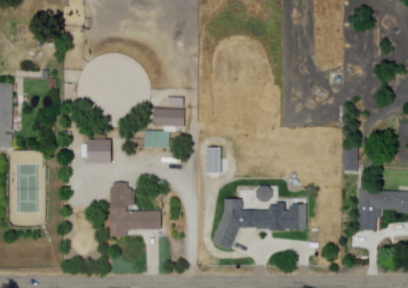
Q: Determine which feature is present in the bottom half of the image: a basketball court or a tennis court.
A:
tennis court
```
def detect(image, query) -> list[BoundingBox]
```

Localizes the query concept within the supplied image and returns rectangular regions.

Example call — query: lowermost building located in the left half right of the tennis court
[109,180,160,238]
